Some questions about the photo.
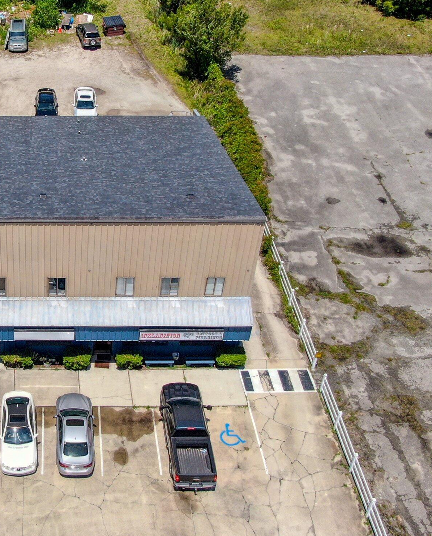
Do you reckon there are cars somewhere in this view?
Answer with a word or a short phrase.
Yes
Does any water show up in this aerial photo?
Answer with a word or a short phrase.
No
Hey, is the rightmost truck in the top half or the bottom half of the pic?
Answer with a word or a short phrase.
bottom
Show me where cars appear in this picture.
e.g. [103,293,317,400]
[6,19,30,51]
[53,394,97,475]
[72,89,98,117]
[33,90,59,117]
[74,23,101,49]
[0,392,40,476]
